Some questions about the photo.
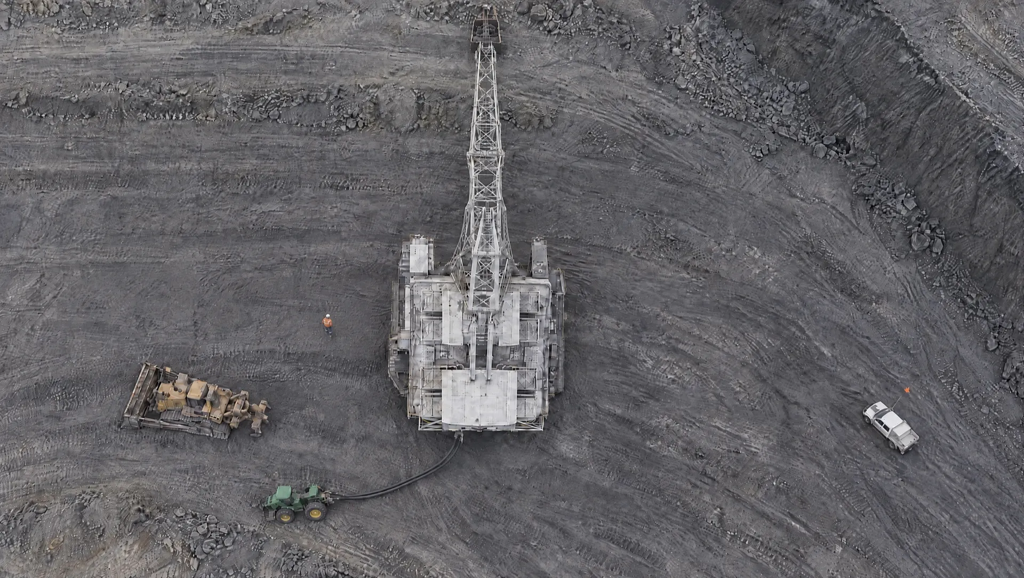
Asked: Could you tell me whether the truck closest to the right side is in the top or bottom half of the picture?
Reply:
bottom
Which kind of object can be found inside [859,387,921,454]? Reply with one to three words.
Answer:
truck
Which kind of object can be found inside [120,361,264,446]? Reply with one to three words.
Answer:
work vehicle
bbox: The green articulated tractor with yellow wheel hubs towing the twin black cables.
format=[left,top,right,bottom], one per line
[258,483,335,527]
